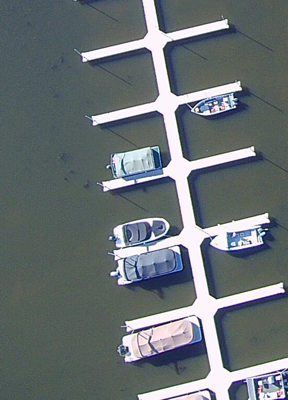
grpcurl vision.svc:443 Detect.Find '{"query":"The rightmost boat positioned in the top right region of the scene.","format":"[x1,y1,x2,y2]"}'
[191,94,236,115]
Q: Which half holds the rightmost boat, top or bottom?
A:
bottom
